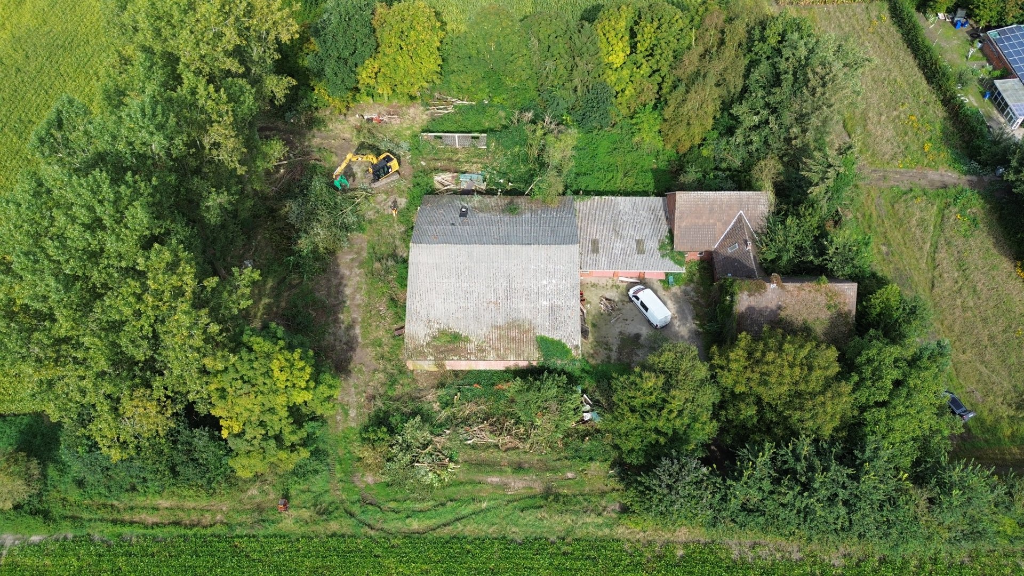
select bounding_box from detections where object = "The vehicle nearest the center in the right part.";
[627,287,673,329]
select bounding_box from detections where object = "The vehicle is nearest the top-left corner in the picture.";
[337,154,401,200]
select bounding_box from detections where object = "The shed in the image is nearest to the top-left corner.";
[420,133,487,151]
